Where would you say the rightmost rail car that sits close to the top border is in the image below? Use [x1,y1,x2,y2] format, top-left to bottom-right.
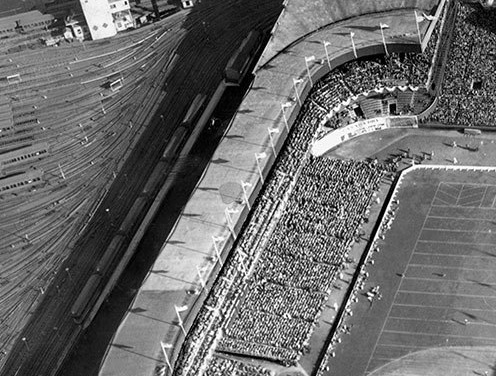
[16,7,59,32]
